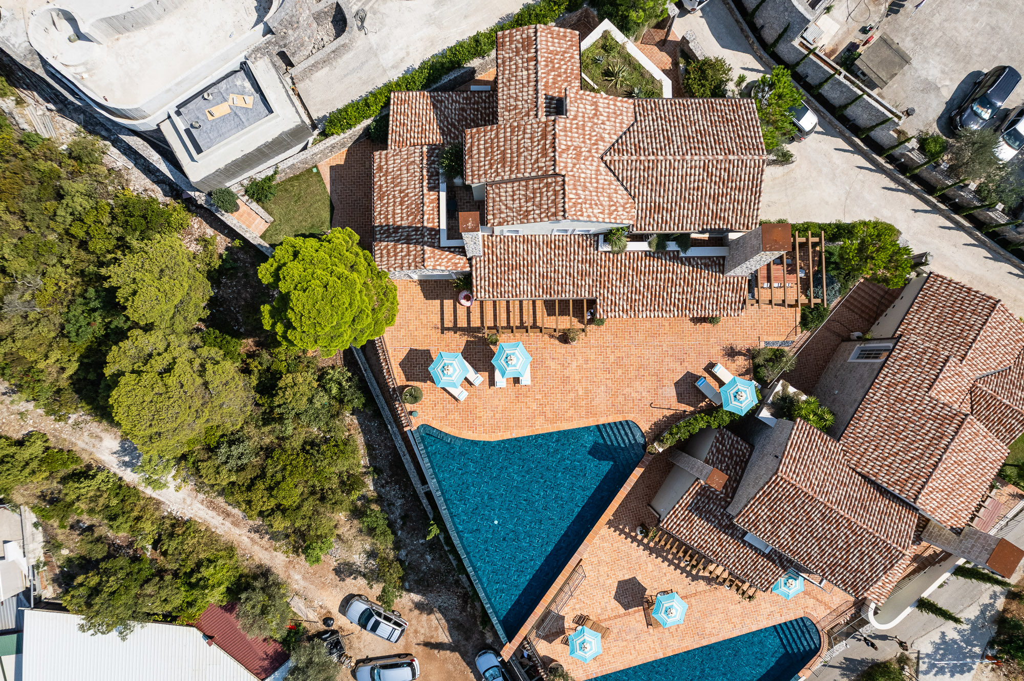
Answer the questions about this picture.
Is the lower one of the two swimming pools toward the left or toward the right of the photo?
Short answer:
right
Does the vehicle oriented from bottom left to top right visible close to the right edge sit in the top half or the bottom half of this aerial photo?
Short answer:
top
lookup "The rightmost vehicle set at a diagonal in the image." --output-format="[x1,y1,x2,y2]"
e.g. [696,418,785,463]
[948,54,1024,138]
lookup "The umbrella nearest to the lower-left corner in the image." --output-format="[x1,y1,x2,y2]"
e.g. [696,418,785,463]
[429,351,471,389]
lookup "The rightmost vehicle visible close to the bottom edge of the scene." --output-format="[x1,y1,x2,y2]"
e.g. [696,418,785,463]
[472,647,510,681]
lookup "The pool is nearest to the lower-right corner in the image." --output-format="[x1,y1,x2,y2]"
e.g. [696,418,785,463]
[588,619,820,681]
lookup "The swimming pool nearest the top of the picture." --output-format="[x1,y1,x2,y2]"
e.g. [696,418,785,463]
[415,421,645,639]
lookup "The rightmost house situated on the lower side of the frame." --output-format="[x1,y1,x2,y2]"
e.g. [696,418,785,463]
[807,272,1024,579]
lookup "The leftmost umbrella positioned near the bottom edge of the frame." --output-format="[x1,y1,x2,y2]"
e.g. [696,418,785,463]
[569,624,602,662]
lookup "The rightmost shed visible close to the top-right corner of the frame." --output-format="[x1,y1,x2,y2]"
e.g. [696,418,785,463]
[847,34,911,95]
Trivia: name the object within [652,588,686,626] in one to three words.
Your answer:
umbrella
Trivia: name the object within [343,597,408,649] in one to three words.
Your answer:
car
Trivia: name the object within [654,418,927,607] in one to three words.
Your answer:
house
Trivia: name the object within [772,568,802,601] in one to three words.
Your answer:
umbrella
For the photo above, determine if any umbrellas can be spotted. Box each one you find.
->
[652,588,686,626]
[772,568,802,601]
[429,351,471,389]
[491,340,533,378]
[569,624,602,662]
[714,375,755,416]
